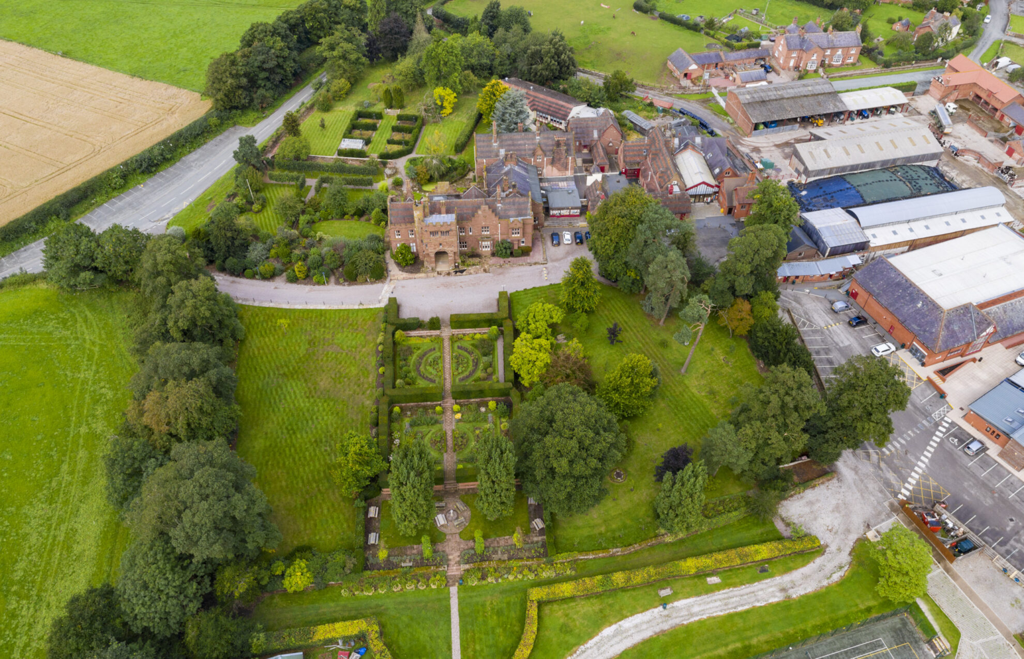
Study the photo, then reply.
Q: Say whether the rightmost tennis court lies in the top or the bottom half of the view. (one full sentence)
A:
Seen from above, the rightmost tennis court lies in the bottom half of the view.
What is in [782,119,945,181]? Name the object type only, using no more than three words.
building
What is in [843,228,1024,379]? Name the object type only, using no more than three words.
building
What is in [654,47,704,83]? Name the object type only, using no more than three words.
shed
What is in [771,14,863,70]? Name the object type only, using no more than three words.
house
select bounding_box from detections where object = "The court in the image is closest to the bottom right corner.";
[765,615,931,659]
